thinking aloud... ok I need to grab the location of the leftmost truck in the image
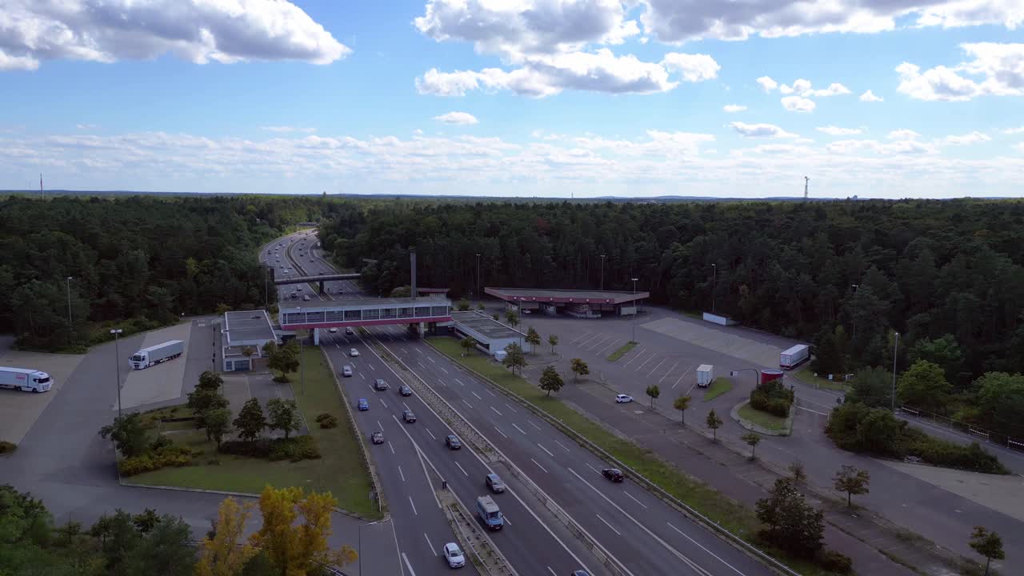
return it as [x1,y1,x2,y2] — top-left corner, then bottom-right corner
[0,366,54,391]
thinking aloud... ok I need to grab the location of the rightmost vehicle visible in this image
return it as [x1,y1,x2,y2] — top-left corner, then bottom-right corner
[779,343,815,367]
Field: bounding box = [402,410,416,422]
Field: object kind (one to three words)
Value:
vehicle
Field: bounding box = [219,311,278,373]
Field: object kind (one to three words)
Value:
building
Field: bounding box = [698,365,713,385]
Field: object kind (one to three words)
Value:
vehicle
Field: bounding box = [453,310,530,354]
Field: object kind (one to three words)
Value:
building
